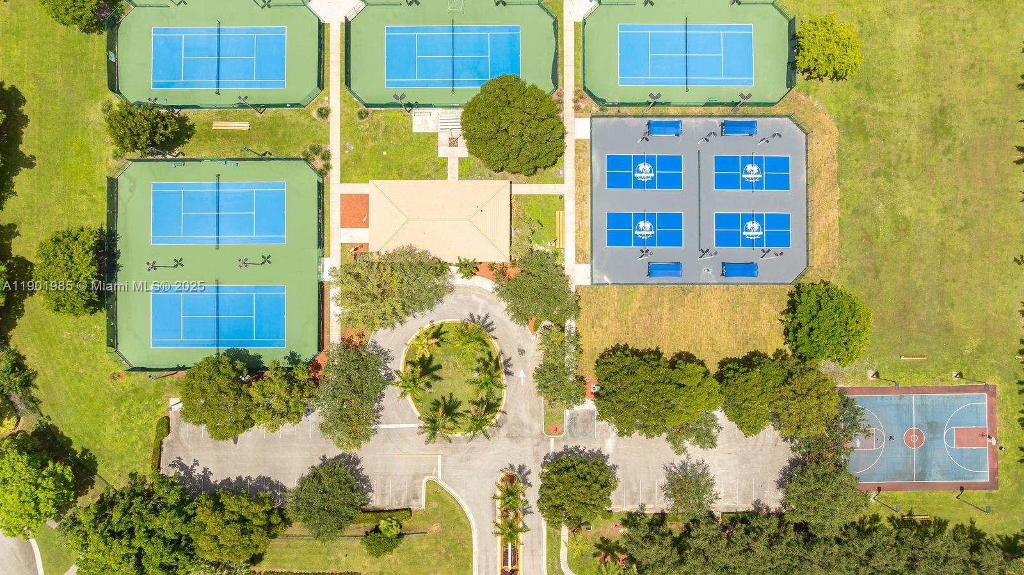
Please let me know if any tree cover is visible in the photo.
Yes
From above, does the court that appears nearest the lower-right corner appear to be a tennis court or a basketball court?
basketball court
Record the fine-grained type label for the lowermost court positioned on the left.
tennis court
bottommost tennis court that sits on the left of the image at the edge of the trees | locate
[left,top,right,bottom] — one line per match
[117,265,322,370]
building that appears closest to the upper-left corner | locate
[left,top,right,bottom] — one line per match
[368,180,510,262]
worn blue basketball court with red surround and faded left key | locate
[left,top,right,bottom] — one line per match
[832,385,999,491]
